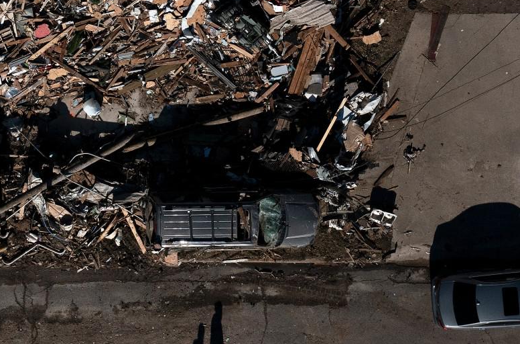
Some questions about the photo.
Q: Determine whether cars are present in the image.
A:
Yes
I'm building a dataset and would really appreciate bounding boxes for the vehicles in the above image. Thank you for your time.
[155,185,318,251]
[427,260,520,326]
